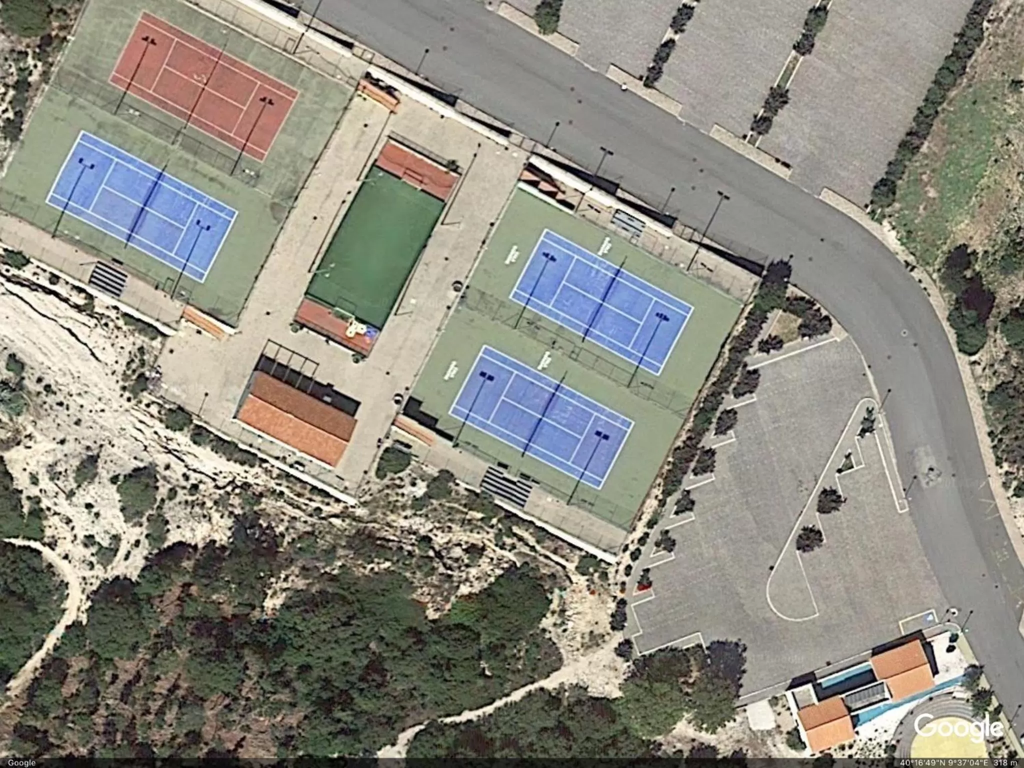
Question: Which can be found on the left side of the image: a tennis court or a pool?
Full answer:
The one visible on the left side of the image is a tennis court.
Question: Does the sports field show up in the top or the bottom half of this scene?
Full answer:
The top half of the photo is where the sports field is.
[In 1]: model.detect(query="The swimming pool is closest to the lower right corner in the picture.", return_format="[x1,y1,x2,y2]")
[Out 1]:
[850,675,966,727]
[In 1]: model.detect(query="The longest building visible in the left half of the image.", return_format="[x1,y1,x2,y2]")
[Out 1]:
[231,370,357,470]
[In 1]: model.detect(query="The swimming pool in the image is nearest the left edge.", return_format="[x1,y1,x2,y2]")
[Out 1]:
[816,664,871,692]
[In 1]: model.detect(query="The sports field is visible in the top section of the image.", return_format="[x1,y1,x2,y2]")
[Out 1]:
[292,140,462,360]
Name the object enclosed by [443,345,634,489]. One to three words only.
tennis court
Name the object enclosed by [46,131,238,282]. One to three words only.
tennis court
